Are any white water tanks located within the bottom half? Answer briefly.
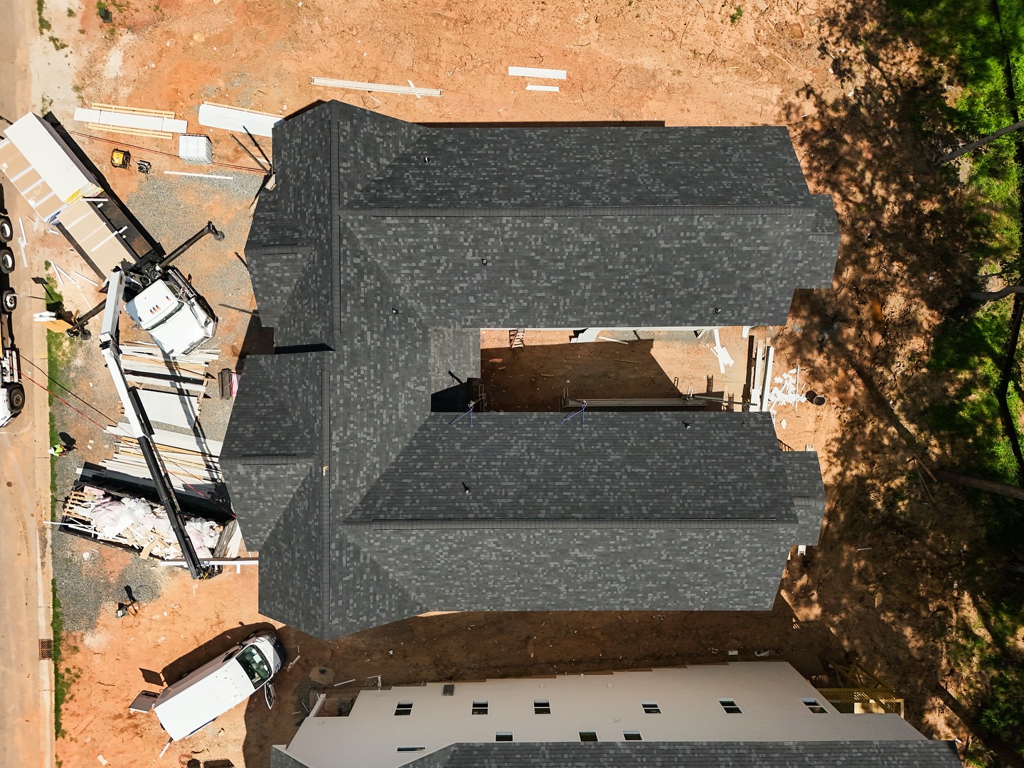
No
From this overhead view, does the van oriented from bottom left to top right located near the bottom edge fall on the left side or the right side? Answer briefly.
left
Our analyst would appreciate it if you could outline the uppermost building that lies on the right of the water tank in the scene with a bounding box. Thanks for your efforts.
[220,99,846,640]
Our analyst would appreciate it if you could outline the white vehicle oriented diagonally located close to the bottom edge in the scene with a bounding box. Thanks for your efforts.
[138,627,295,755]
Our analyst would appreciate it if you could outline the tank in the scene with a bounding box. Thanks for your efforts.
[173,132,210,162]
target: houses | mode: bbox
[220,99,846,640]
[270,659,966,768]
